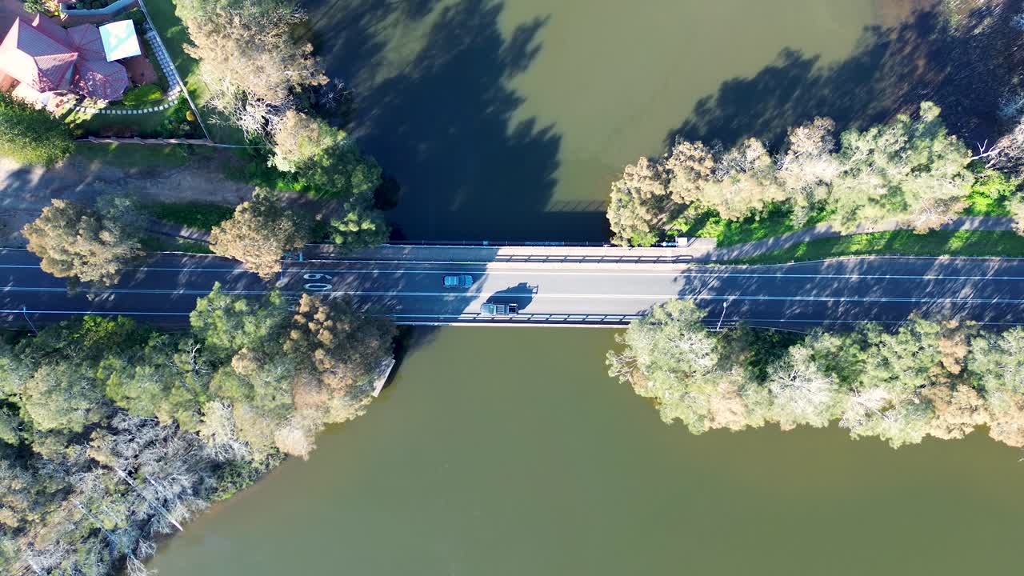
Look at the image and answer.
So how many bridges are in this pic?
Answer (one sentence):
I count 1 bridge.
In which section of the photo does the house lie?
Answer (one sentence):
Look in the top left portion of the view to spot the house.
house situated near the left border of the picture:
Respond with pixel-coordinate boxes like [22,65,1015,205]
[0,8,133,103]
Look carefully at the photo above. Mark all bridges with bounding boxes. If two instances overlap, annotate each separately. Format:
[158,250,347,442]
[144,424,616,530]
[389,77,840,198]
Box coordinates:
[282,239,728,330]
